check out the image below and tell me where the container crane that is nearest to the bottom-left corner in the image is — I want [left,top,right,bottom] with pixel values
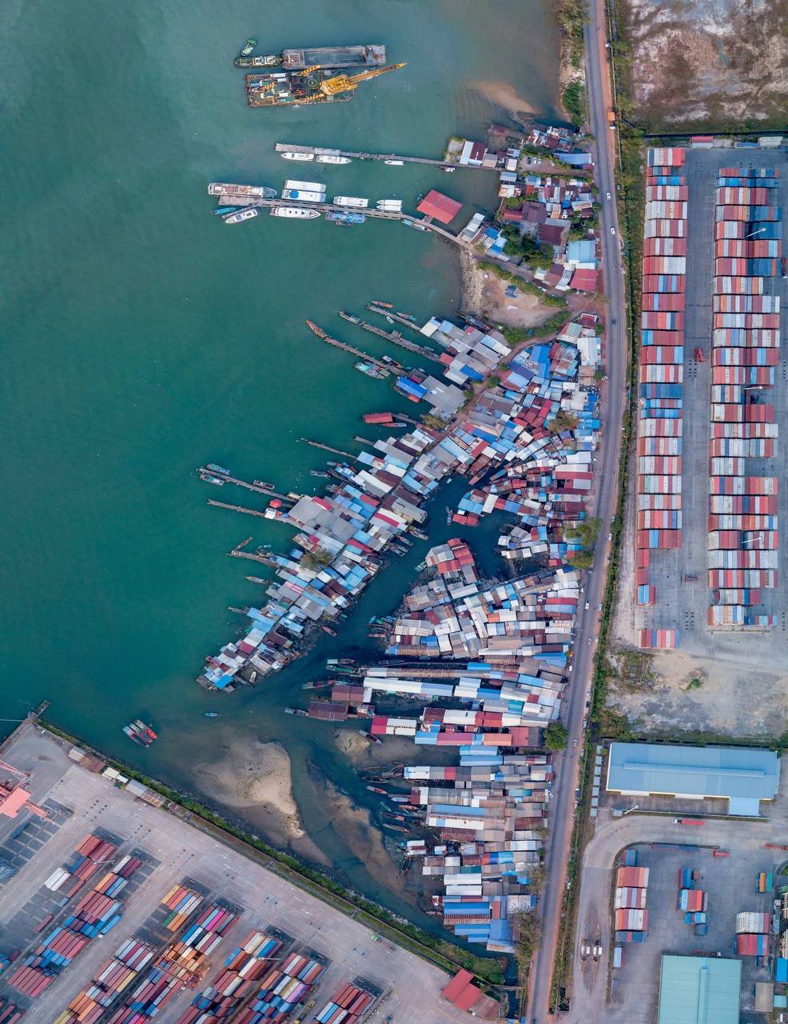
[154,941,206,987]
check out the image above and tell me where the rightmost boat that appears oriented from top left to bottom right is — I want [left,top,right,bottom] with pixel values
[466,316,490,332]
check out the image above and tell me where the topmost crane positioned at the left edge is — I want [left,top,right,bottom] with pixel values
[0,739,54,825]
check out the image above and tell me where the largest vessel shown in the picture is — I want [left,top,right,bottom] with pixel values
[246,61,408,106]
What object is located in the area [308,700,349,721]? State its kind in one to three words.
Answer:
house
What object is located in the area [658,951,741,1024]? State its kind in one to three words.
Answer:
shed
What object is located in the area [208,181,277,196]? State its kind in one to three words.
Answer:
boat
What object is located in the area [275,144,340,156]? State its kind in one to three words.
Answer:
pier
